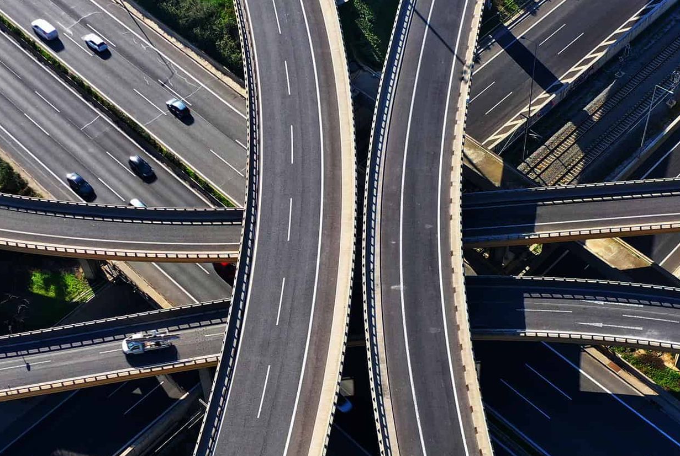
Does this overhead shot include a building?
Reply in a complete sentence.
No, I find no building anywhere in the image.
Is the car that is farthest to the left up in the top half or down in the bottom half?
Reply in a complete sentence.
Seen from above, the car that is farthest to the left lies in the top half of the view.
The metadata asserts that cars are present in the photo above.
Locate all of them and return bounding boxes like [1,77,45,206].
[166,98,191,120]
[67,175,94,200]
[126,155,156,182]
[336,389,358,417]
[85,35,108,54]
[32,21,58,41]
[125,197,153,212]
